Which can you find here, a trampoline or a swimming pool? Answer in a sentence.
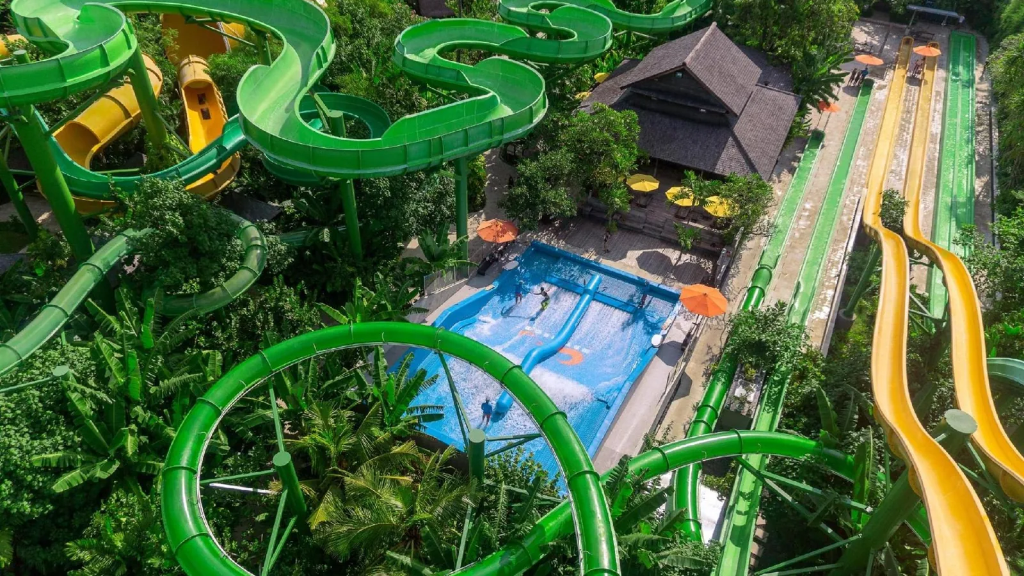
I can see a swimming pool in this picture.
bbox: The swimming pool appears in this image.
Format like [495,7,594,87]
[394,239,688,506]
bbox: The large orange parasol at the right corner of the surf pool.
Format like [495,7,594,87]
[677,288,725,328]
